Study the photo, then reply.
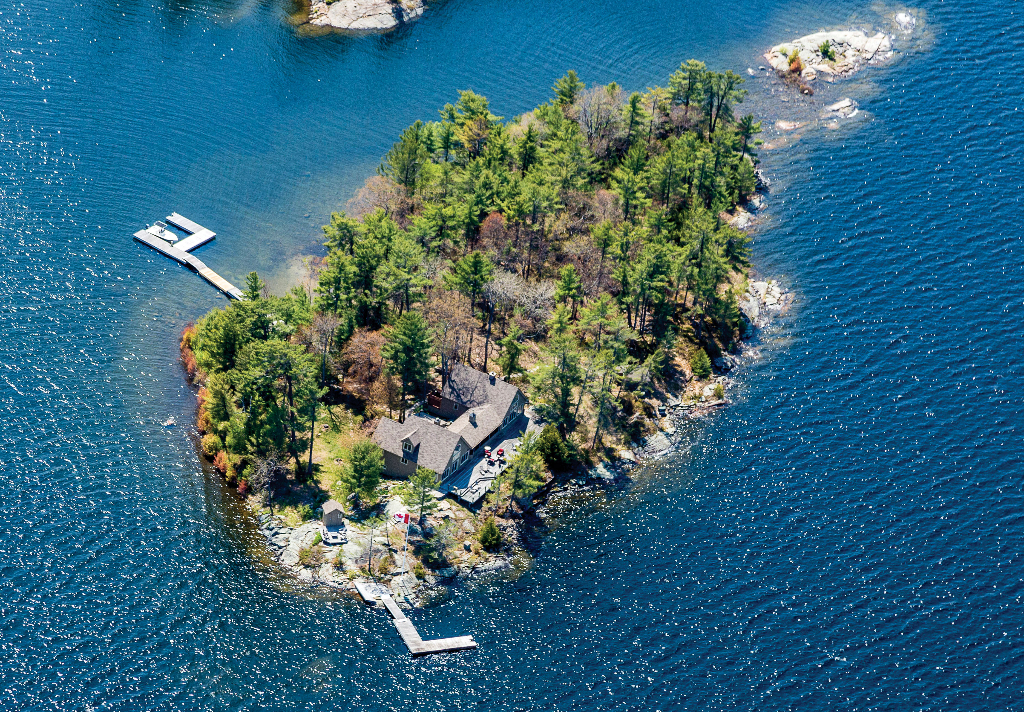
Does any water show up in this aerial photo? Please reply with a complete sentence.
Yes, water can be seen from above here.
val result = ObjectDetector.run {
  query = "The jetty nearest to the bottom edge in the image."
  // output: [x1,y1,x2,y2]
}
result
[393,618,477,656]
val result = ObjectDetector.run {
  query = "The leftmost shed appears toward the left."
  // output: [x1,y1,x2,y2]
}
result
[323,496,344,526]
